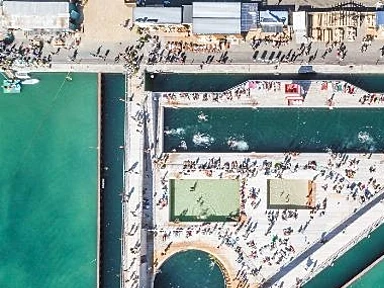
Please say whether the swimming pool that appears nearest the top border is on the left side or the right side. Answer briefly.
right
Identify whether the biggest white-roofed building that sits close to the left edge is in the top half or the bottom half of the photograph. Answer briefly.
top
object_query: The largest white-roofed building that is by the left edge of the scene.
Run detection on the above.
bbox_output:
[1,1,76,32]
